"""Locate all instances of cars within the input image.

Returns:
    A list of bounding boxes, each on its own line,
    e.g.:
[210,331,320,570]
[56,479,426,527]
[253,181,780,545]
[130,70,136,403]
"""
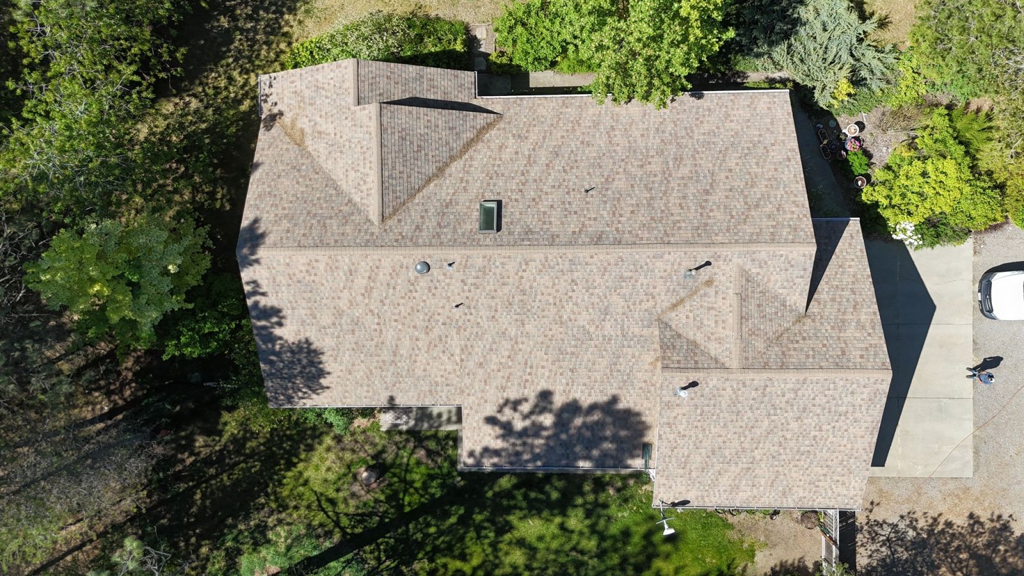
[978,270,1024,321]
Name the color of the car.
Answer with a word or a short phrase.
white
